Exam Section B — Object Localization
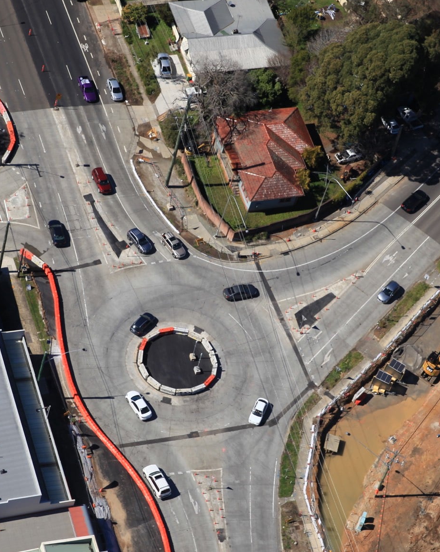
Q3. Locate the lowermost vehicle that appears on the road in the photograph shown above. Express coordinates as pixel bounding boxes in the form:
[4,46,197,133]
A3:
[143,464,174,502]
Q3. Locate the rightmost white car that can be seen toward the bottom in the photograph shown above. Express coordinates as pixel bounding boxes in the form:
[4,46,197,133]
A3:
[245,395,272,431]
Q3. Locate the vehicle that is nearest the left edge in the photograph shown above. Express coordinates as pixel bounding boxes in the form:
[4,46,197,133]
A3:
[47,219,69,250]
